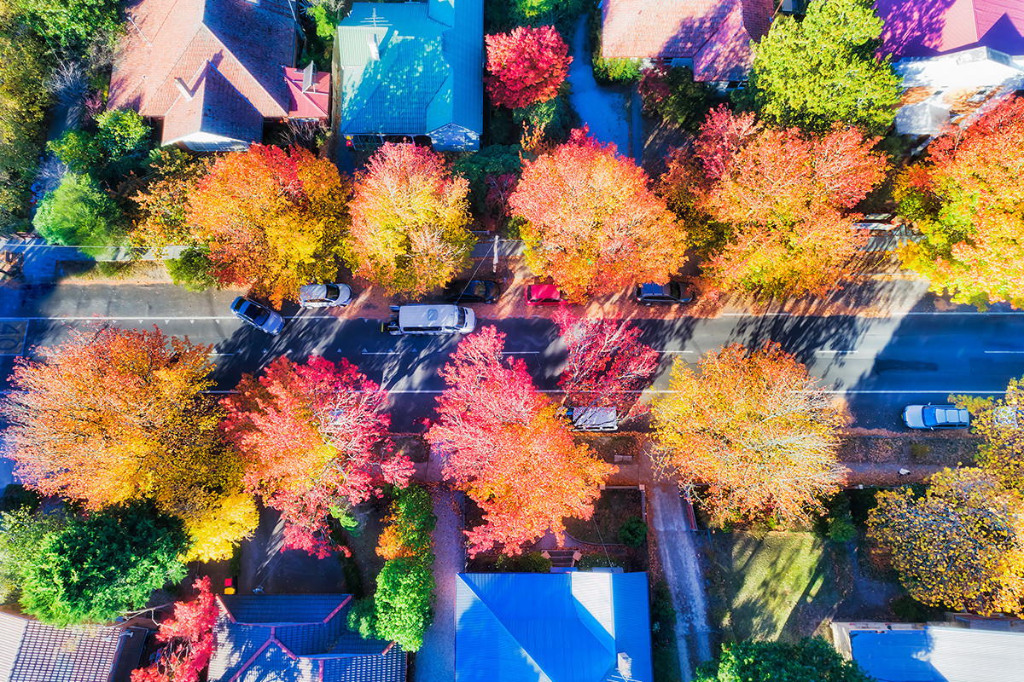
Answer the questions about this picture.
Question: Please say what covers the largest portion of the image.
trees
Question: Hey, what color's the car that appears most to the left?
blue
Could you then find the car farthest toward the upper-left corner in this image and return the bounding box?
[227,289,288,339]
